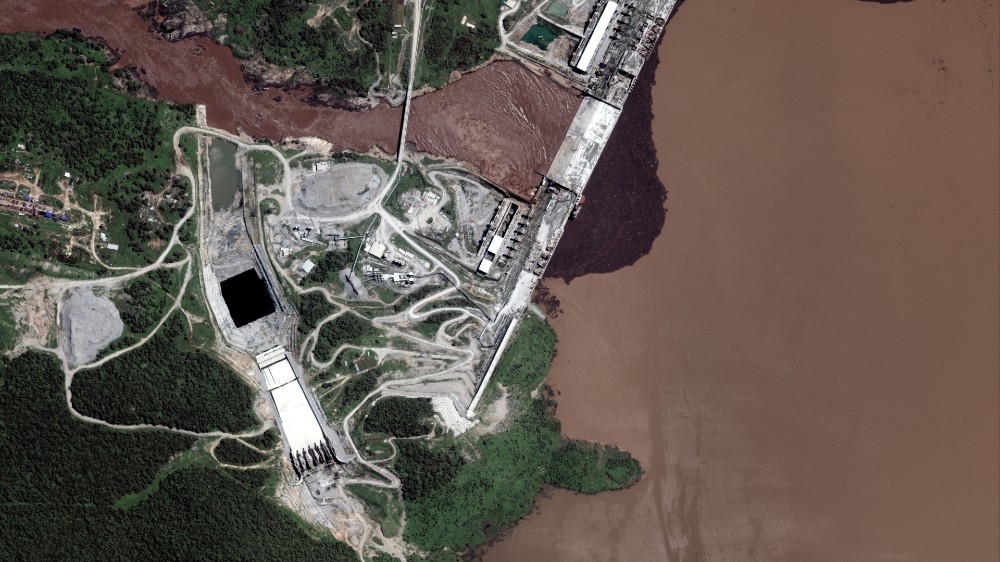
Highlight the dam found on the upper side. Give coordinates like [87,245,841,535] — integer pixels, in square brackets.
[467,0,675,419]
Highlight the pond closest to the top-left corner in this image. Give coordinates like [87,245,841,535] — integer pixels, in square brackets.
[208,138,242,210]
